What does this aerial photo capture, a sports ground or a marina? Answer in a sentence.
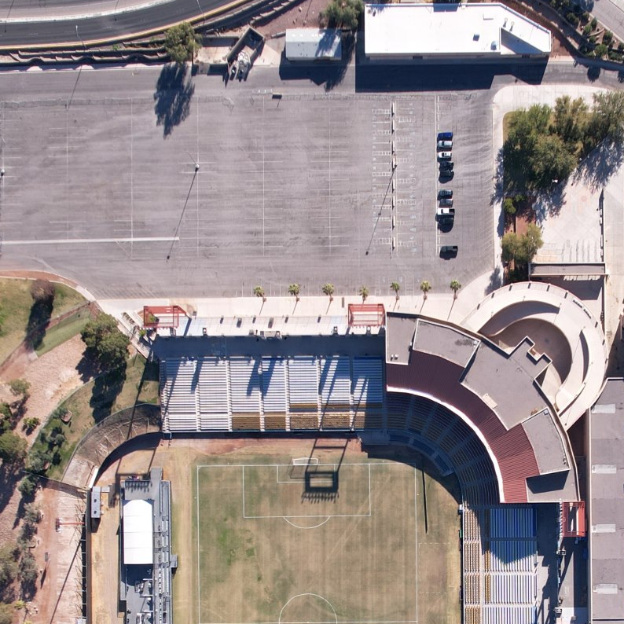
This image shows a sports ground.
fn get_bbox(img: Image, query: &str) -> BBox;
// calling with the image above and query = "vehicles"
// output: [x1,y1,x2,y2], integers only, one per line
[440,216,454,223]
[441,248,458,254]
[437,208,455,215]
[440,169,455,177]
[437,140,452,149]
[437,152,452,159]
[440,162,454,169]
[437,132,452,139]
[439,190,454,197]
[439,199,454,206]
